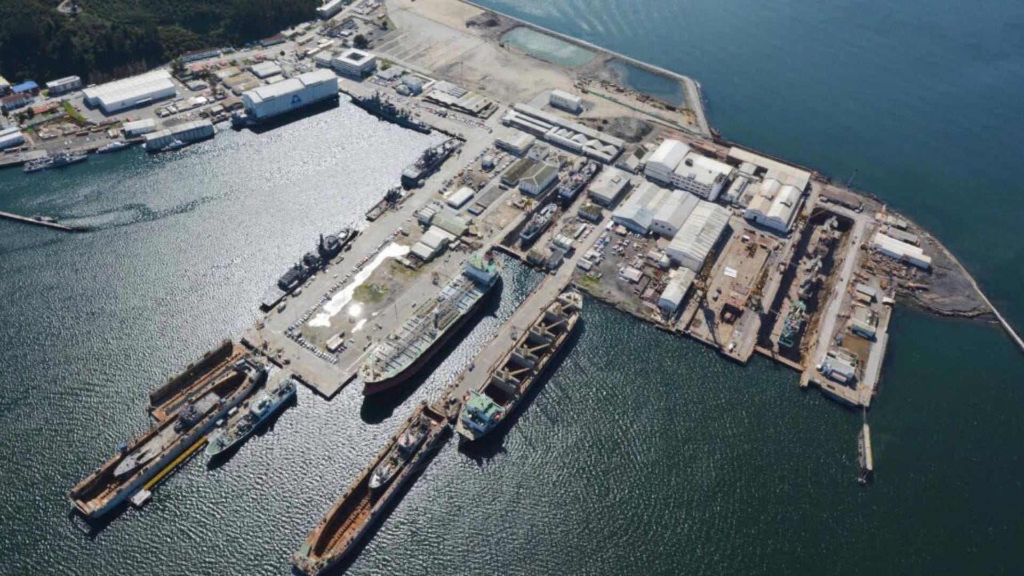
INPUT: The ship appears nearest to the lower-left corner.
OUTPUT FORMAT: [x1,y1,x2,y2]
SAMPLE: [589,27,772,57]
[130,489,155,510]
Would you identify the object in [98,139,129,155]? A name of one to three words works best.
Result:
boat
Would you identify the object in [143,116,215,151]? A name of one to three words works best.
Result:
shed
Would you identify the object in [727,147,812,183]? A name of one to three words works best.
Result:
building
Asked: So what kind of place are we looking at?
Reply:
port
